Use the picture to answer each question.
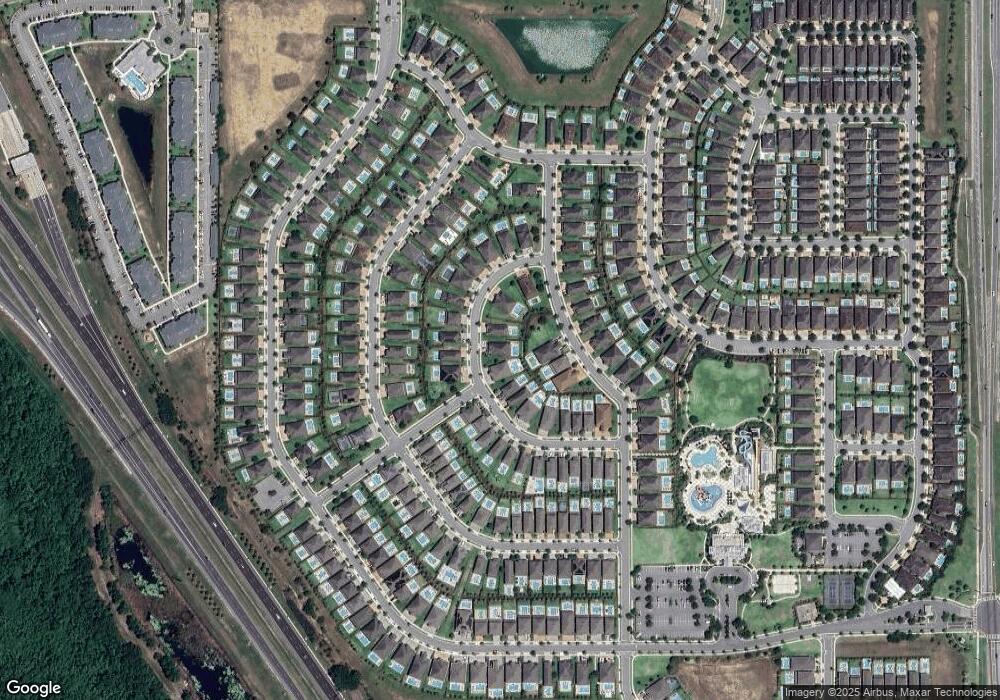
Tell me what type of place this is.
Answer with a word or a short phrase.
residential area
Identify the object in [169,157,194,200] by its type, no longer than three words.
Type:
building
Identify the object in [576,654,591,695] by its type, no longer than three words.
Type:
house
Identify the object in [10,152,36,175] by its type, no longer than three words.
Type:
toll station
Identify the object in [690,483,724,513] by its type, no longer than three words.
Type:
swimming pool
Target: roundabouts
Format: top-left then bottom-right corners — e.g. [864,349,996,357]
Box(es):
[152,24,184,56]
